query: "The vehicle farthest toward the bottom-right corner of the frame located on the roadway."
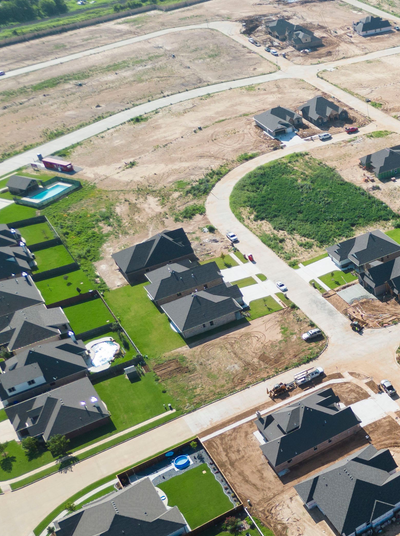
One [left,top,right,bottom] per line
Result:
[380,379,397,397]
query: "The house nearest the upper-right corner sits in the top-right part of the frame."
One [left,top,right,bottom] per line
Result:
[347,12,394,37]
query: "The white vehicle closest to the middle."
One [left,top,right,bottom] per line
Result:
[224,227,240,241]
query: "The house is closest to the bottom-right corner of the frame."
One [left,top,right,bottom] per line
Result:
[292,447,400,536]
